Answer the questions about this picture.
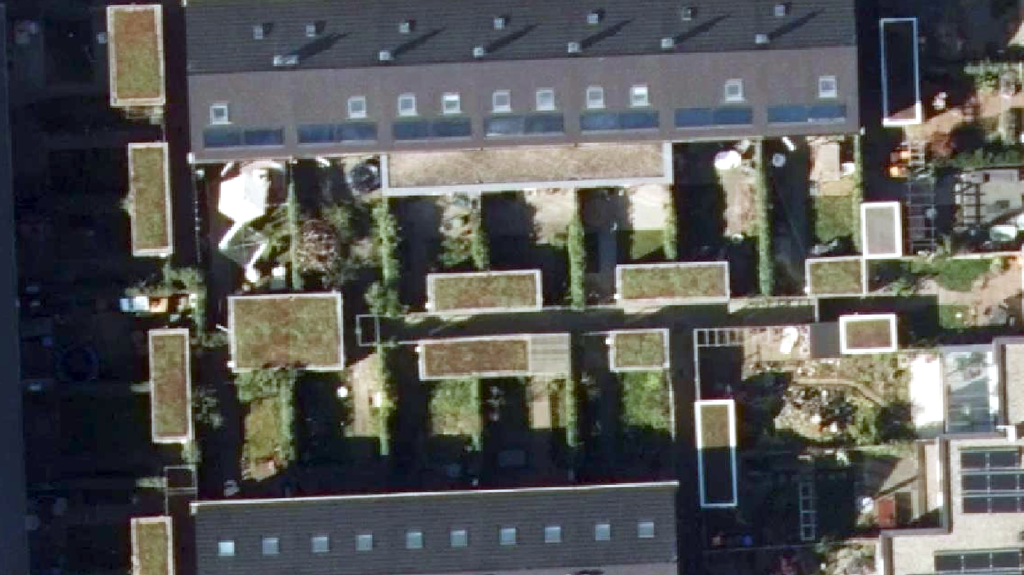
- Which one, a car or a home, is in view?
home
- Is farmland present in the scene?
No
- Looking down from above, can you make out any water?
No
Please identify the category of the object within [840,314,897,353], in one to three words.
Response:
shed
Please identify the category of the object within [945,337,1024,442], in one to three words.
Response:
house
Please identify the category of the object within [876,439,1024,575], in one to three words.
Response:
house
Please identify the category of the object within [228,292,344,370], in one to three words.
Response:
shed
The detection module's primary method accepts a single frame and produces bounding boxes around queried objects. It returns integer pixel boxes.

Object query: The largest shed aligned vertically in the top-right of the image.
[881,18,921,124]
